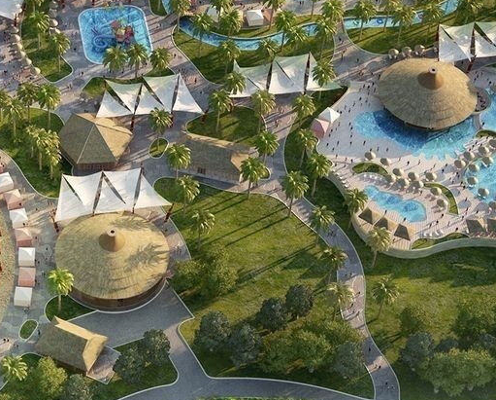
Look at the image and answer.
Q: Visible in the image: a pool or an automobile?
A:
pool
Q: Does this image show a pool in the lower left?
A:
No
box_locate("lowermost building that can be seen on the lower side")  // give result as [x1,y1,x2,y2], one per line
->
[35,317,106,378]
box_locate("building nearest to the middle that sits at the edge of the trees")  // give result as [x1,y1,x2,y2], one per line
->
[180,136,256,180]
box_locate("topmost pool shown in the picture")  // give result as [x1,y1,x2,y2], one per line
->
[83,4,151,61]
